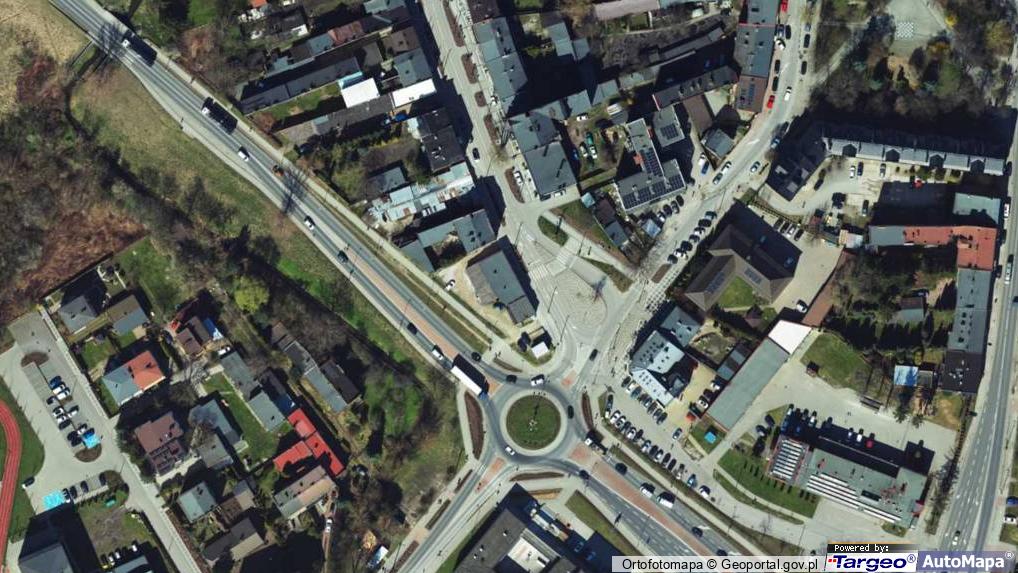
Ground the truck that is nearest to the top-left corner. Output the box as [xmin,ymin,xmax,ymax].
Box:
[124,41,152,65]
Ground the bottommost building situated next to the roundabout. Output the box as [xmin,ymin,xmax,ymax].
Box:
[443,507,579,573]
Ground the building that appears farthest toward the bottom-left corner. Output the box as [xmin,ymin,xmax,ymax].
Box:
[19,541,86,573]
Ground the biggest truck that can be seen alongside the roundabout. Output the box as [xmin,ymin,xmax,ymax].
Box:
[450,368,487,400]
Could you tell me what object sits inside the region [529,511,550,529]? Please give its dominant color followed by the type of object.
white vehicle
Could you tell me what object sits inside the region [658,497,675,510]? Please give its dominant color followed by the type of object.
white vehicle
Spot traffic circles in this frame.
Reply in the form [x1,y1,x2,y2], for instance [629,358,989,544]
[484,373,584,473]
